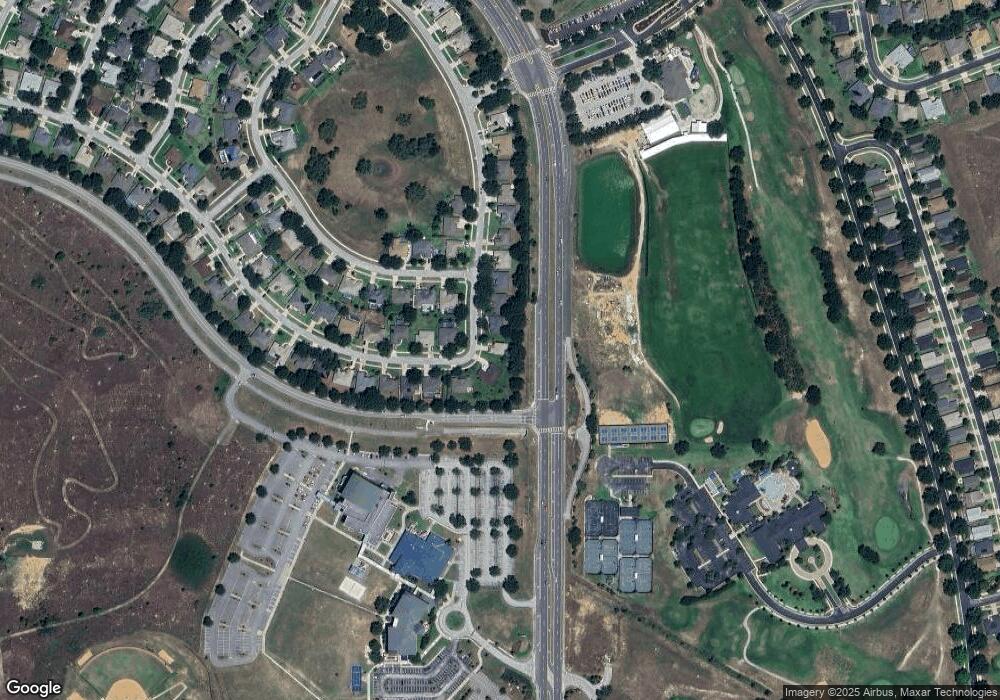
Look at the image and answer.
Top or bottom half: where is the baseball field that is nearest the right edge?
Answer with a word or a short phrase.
bottom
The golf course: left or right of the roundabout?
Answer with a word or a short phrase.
to the right of it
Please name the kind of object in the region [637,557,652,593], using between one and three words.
tennis court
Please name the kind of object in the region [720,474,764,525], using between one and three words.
building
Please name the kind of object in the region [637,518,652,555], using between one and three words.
tennis court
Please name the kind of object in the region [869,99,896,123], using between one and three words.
house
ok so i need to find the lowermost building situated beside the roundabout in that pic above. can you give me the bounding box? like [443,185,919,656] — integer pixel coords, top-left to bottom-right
[385,592,435,663]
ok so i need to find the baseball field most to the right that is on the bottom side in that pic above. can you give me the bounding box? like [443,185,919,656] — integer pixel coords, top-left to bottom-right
[80,645,187,700]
